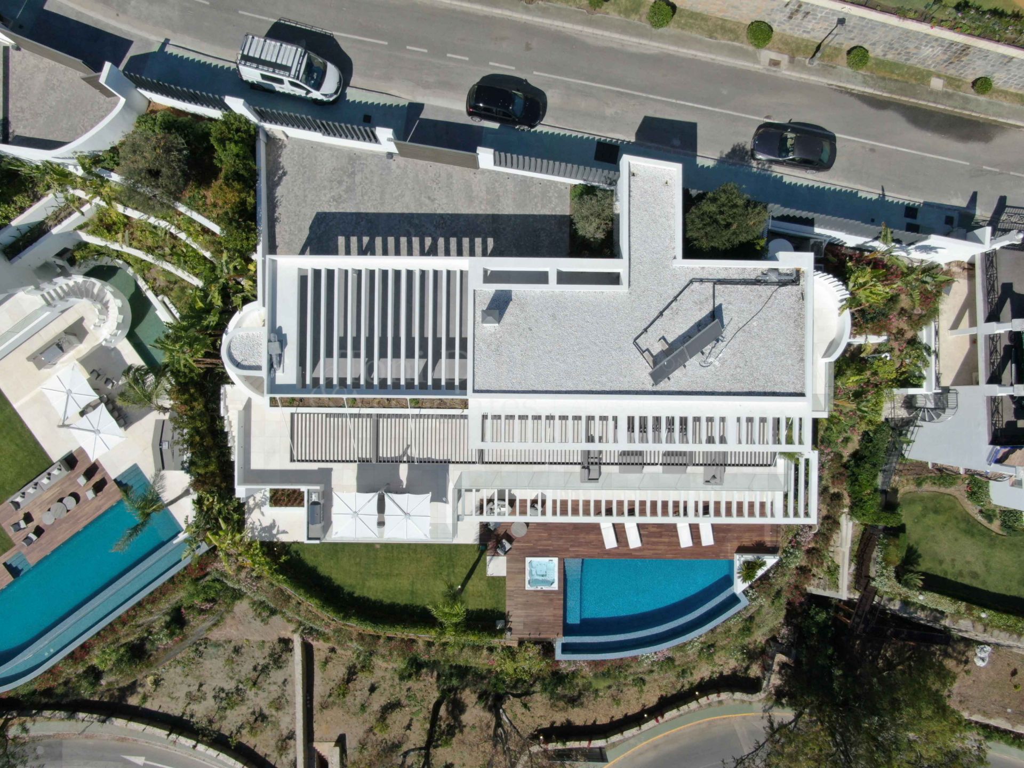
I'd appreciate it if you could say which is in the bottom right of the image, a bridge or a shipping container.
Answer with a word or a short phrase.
bridge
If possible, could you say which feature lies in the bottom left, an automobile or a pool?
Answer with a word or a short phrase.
pool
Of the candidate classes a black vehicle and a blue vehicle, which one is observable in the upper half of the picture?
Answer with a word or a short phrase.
black vehicle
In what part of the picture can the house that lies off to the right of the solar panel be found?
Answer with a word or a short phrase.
right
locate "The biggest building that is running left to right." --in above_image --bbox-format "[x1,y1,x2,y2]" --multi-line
[222,156,851,451]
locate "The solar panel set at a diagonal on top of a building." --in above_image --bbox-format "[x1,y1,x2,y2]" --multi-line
[639,319,723,385]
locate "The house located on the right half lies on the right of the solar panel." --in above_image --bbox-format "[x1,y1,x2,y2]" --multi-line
[945,257,1024,404]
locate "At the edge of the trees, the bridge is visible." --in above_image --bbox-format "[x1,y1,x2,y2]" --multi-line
[837,589,952,651]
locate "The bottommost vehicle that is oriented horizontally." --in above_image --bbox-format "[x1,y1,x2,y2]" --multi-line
[751,122,845,172]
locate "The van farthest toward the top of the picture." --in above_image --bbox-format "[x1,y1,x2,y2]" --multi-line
[226,32,341,102]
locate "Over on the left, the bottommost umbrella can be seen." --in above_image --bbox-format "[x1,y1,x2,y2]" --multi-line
[332,478,431,539]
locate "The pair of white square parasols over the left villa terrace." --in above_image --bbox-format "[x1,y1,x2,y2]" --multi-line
[41,364,128,461]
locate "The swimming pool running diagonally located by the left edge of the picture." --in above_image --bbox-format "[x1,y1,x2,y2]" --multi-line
[0,465,216,696]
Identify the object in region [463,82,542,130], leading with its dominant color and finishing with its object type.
black car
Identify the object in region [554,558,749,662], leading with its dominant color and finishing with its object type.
blue swimming pool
